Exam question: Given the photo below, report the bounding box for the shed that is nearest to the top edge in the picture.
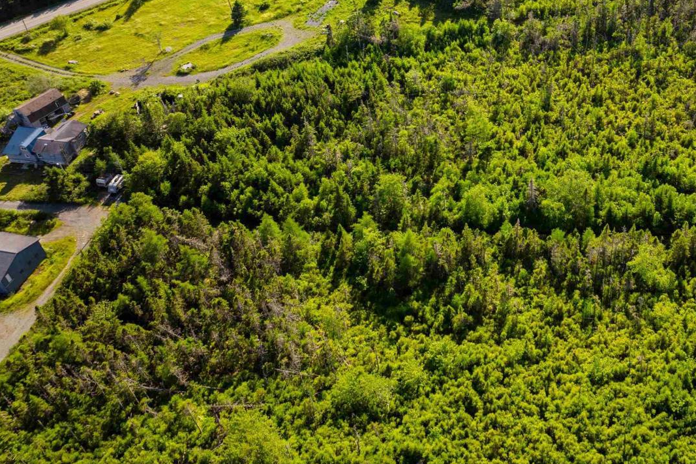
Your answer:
[9,94,71,127]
